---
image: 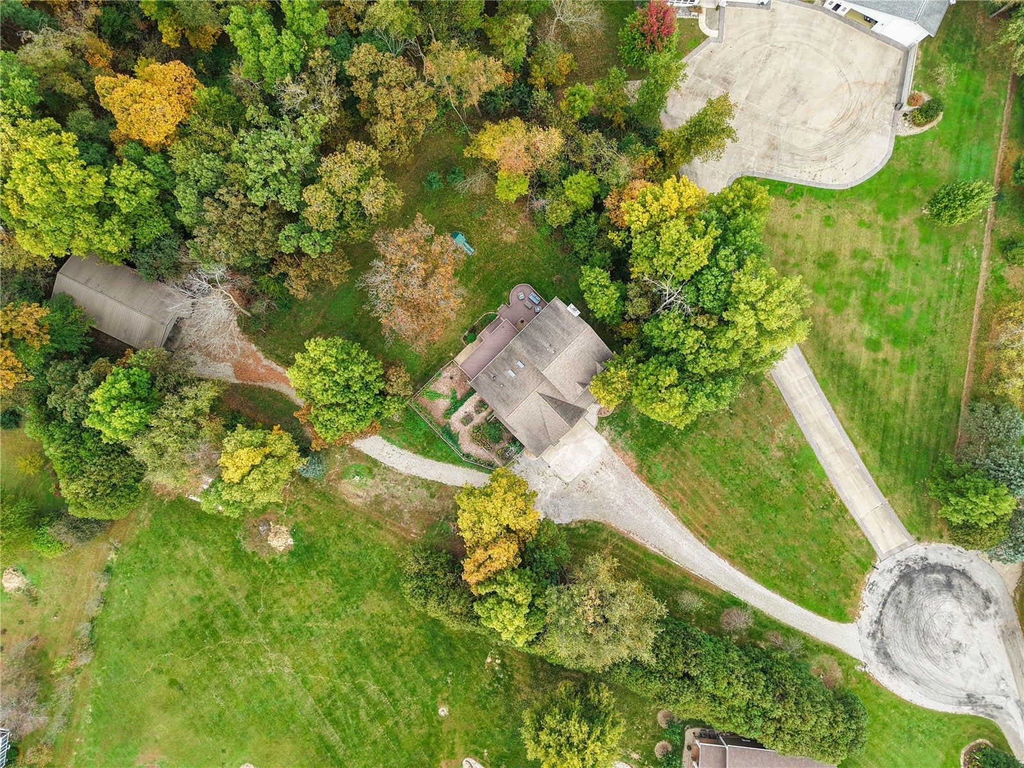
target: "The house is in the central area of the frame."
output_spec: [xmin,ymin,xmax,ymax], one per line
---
[468,297,616,455]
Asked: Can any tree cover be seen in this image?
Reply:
Yes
